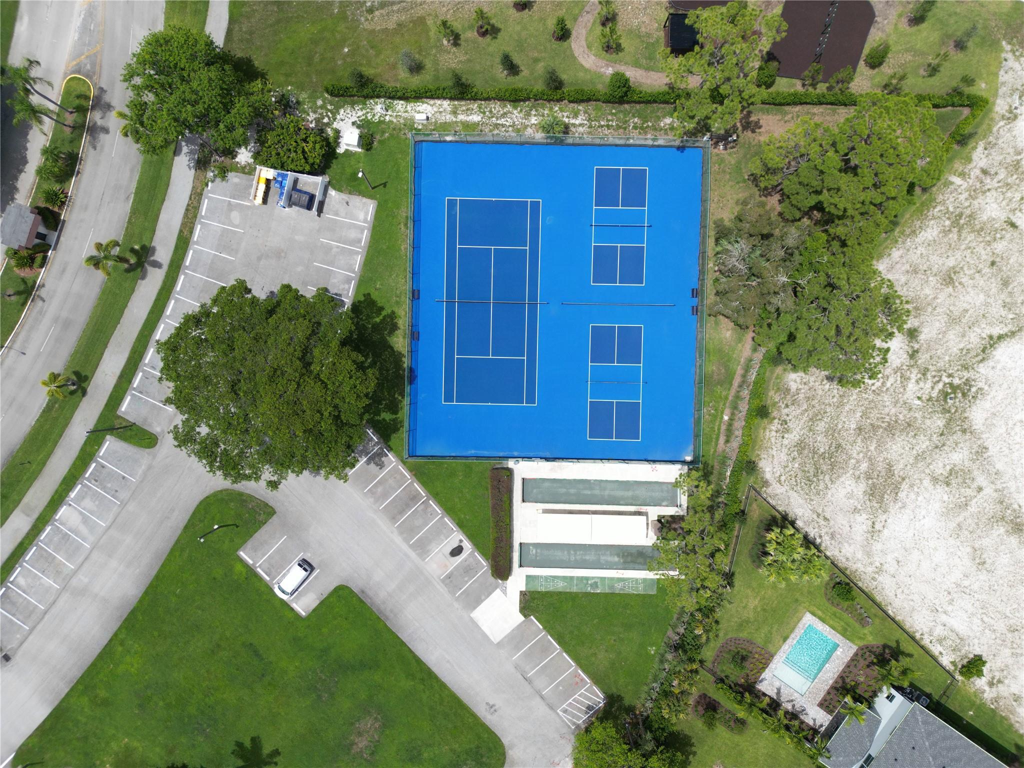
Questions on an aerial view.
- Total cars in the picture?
one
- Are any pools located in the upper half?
No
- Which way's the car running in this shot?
on a diagonal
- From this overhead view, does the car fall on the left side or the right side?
left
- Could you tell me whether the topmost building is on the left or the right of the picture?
right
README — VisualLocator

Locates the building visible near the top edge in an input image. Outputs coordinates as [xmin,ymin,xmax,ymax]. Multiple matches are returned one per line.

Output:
[663,14,702,60]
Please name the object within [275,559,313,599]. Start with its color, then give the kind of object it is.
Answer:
white car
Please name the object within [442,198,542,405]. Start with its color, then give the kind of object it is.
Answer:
blue tennis court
